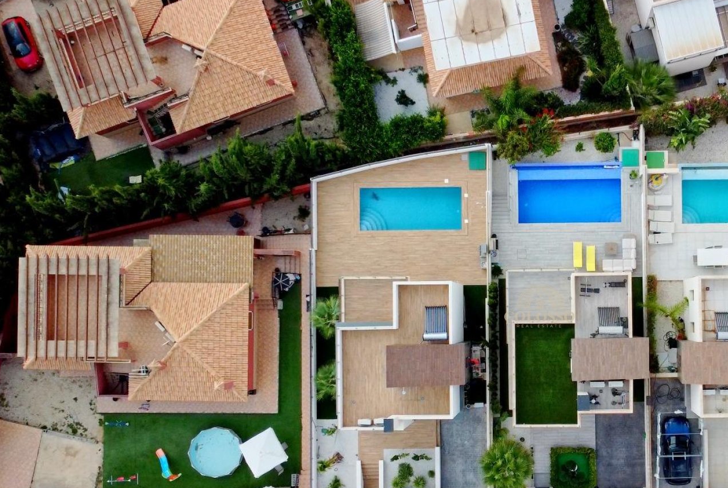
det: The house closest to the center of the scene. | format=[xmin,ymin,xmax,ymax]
[335,276,471,446]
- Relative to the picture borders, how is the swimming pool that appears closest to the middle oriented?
from left to right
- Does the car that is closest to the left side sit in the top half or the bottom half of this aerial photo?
top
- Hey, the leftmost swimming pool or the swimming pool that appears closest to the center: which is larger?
the swimming pool that appears closest to the center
